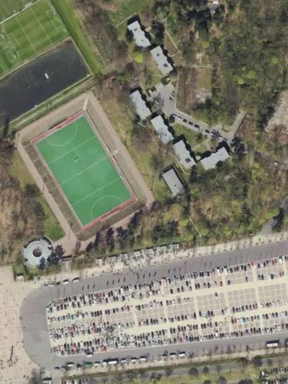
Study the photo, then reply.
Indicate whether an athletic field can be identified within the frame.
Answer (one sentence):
Yes, the frame does contain an athletic field.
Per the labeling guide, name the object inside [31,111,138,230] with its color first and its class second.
green sports field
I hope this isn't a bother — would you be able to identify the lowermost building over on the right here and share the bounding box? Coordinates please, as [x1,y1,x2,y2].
[162,168,184,196]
